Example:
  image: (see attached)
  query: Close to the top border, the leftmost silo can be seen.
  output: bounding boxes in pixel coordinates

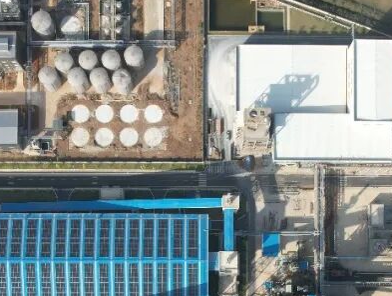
[31,8,60,42]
